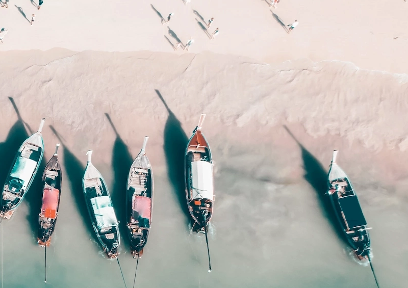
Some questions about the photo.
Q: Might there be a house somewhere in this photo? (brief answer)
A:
No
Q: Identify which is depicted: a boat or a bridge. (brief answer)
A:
boat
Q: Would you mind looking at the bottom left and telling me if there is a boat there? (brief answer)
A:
Yes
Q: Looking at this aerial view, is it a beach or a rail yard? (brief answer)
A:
beach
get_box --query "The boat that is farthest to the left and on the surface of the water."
[0,117,45,226]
